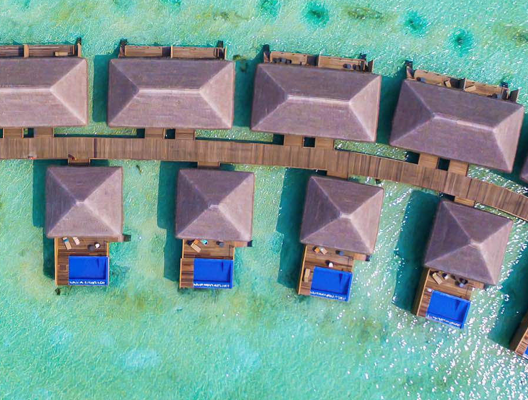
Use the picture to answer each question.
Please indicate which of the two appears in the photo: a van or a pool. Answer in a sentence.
There is a pool in the scene.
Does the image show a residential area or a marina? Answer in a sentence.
This looks like a residential area.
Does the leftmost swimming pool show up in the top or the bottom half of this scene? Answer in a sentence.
It is in the bottom half that the leftmost swimming pool appears.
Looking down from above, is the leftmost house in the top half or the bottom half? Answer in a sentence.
The top half of the photo is where the leftmost house is.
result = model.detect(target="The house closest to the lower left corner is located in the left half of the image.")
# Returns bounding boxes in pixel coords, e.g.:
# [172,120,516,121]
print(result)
[47,167,133,288]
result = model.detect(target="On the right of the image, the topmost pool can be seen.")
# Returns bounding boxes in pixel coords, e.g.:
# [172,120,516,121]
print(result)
[310,266,352,301]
